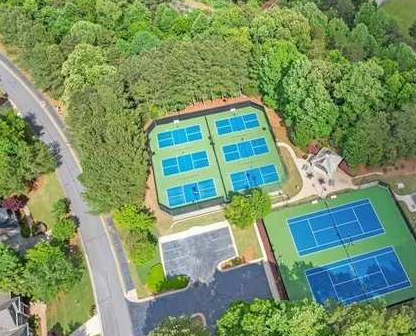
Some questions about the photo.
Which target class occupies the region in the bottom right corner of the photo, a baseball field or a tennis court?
tennis court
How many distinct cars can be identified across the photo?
zero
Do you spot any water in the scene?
No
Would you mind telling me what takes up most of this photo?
trees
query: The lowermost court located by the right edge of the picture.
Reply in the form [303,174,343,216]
[305,245,412,314]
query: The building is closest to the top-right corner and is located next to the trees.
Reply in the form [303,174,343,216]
[308,146,345,182]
